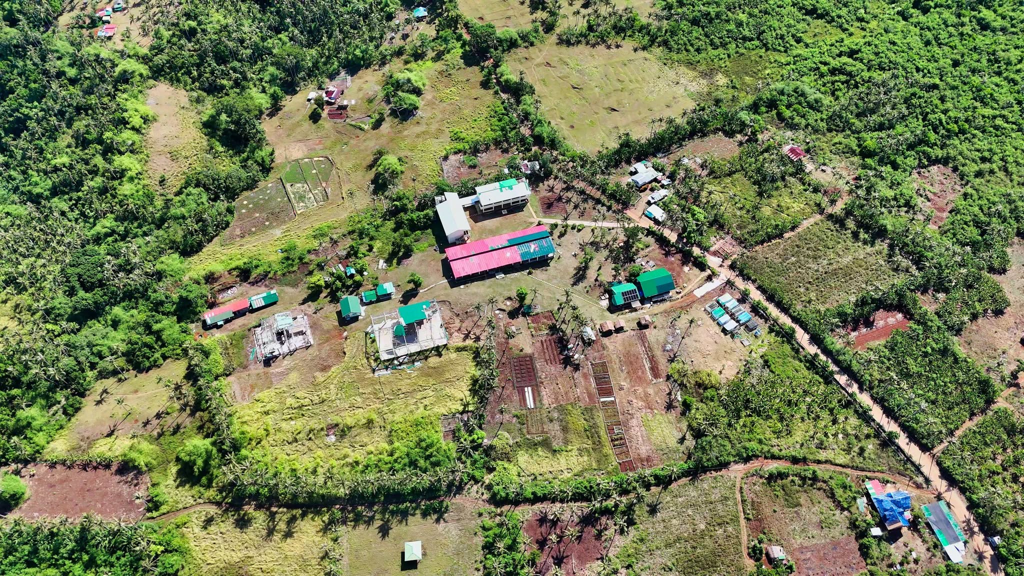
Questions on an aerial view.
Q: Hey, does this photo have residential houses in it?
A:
Yes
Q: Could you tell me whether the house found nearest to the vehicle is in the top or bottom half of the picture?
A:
bottom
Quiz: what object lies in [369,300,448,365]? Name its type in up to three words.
building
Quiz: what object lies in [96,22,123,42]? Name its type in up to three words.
house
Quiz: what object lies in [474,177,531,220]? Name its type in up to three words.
building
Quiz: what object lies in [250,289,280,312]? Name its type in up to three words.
shed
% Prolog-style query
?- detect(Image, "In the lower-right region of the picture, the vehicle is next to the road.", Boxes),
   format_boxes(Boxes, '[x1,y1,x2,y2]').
[988,532,1006,549]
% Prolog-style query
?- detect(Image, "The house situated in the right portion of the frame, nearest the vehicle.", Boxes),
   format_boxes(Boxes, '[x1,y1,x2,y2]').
[918,501,965,549]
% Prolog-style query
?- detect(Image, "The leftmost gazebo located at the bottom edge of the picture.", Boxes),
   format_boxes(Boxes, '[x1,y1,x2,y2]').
[404,540,422,562]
